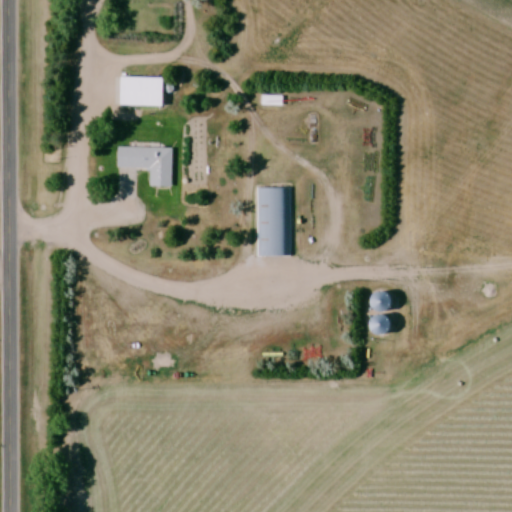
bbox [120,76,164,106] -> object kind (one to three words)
building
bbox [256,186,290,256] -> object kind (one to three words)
barn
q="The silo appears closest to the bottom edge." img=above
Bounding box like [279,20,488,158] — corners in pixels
[369,313,393,336]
